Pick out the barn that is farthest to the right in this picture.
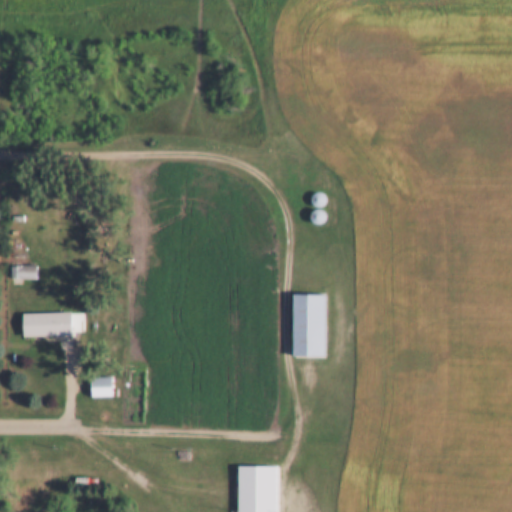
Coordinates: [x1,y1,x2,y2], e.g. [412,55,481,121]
[292,294,327,358]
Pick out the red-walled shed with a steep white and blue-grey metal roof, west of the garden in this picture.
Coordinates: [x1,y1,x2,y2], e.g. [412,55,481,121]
[90,376,116,398]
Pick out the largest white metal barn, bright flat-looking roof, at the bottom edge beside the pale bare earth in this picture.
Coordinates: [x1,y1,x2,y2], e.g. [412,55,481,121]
[238,466,280,512]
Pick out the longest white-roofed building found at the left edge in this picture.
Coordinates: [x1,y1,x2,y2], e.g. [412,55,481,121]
[22,312,87,338]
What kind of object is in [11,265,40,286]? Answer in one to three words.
building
